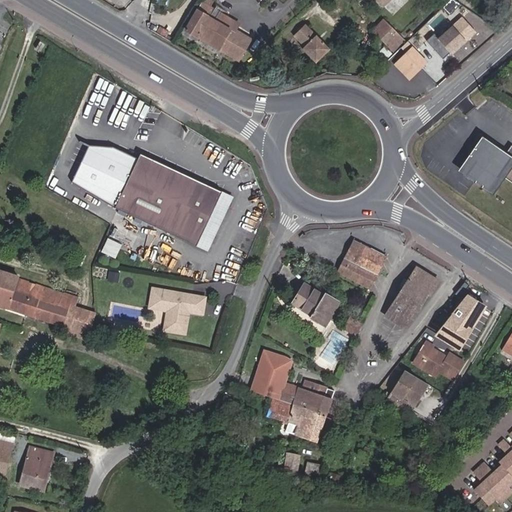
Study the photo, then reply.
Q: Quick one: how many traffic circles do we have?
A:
1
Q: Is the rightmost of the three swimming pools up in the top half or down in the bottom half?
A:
top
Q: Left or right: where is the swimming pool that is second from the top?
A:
left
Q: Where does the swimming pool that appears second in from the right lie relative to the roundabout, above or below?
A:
below it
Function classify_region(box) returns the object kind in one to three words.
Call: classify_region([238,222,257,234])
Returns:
vehicle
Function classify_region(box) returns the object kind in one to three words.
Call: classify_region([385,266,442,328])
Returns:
barn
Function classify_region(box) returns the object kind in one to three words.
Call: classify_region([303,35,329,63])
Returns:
house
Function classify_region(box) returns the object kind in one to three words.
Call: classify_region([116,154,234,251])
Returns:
building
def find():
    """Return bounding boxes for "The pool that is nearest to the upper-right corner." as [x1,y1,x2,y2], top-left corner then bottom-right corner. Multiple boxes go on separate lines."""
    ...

[430,12,452,36]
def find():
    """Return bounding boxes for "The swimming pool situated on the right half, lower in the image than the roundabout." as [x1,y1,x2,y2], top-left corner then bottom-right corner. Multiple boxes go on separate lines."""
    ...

[318,329,348,364]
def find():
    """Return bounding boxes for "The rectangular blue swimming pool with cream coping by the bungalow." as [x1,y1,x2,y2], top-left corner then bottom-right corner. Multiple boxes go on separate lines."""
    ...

[110,302,144,326]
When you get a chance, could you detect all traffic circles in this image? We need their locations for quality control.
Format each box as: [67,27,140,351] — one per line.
[242,80,436,228]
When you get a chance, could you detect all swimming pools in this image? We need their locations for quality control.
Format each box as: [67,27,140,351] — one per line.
[430,12,452,36]
[318,329,348,364]
[110,302,144,326]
